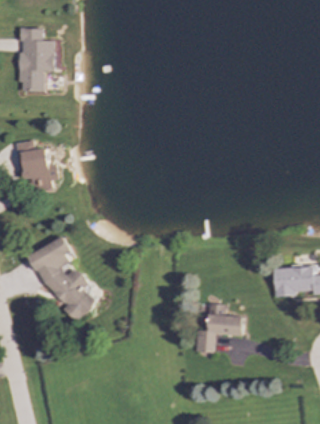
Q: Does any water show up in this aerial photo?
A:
Yes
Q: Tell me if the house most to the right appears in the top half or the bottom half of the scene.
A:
bottom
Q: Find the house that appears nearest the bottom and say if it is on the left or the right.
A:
right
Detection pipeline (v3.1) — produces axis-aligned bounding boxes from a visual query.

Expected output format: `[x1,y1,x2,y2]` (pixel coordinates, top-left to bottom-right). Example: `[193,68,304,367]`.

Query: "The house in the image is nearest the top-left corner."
[14,28,62,94]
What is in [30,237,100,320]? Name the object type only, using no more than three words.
house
